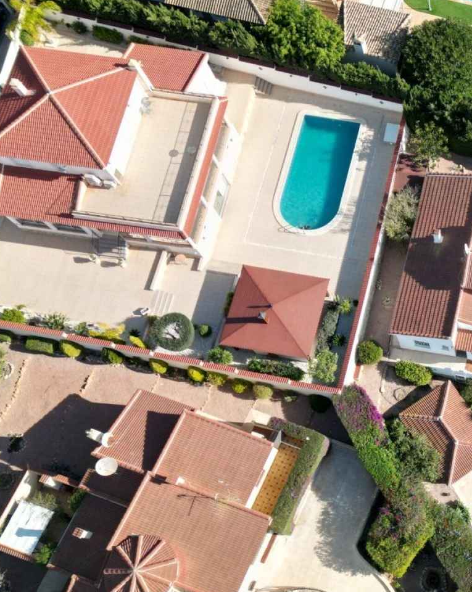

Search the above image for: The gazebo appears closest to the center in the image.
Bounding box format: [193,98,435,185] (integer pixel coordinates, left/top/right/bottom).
[220,264,334,361]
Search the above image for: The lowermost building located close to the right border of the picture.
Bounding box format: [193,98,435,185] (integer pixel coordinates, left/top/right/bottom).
[397,378,472,486]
